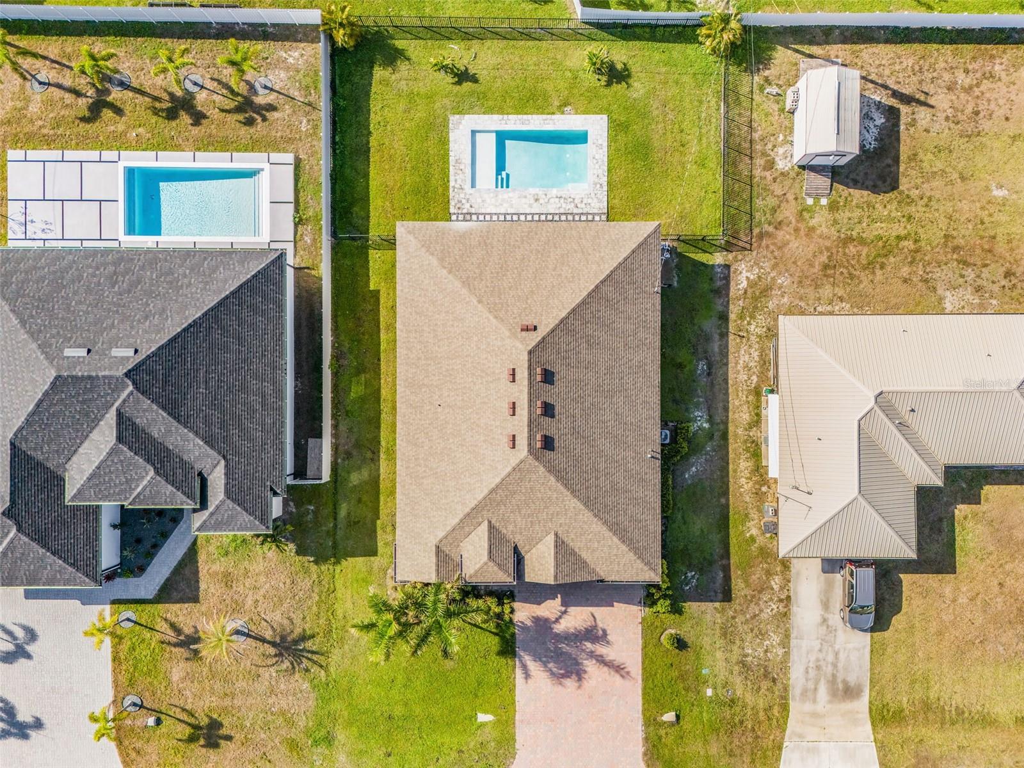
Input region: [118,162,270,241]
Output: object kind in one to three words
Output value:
swimming pool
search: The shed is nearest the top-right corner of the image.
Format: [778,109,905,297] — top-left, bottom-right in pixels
[791,65,859,165]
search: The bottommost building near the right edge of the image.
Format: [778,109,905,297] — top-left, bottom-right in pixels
[769,312,1024,560]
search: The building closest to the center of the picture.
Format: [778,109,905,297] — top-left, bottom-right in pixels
[394,220,662,588]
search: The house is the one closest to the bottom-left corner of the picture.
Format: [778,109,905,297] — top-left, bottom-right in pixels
[0,247,294,590]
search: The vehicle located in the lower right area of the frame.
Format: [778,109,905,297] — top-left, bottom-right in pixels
[839,558,881,632]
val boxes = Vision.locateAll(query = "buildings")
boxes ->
[791,65,859,165]
[394,220,662,588]
[0,247,294,590]
[769,312,1024,560]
